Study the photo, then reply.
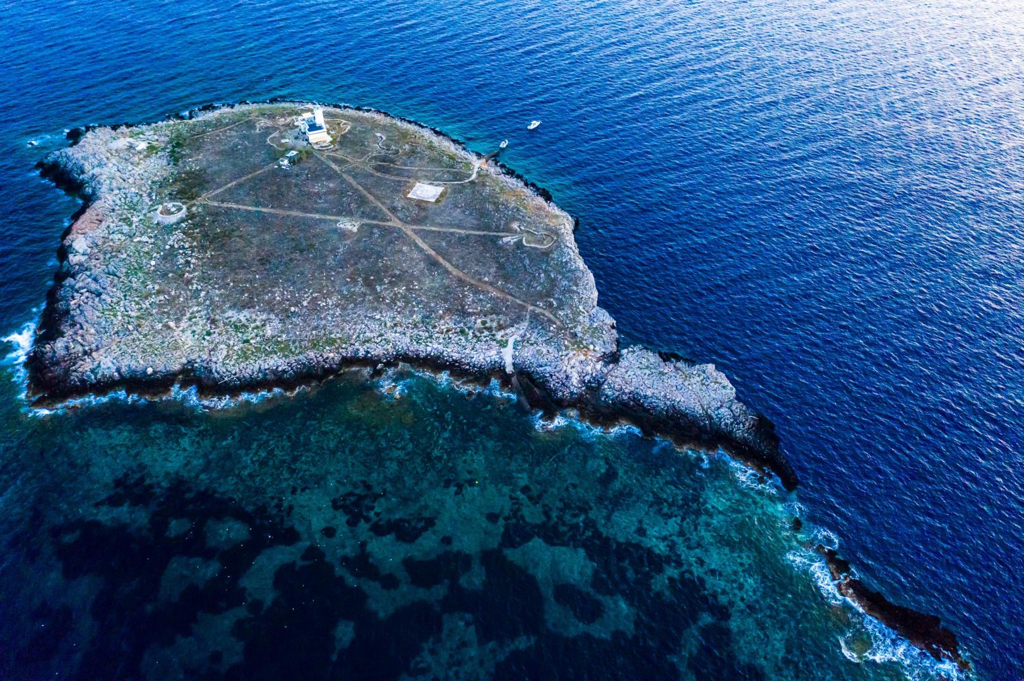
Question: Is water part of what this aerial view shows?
Yes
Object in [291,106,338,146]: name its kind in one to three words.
lighthouse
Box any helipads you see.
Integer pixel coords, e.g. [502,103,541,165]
[407,183,444,202]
